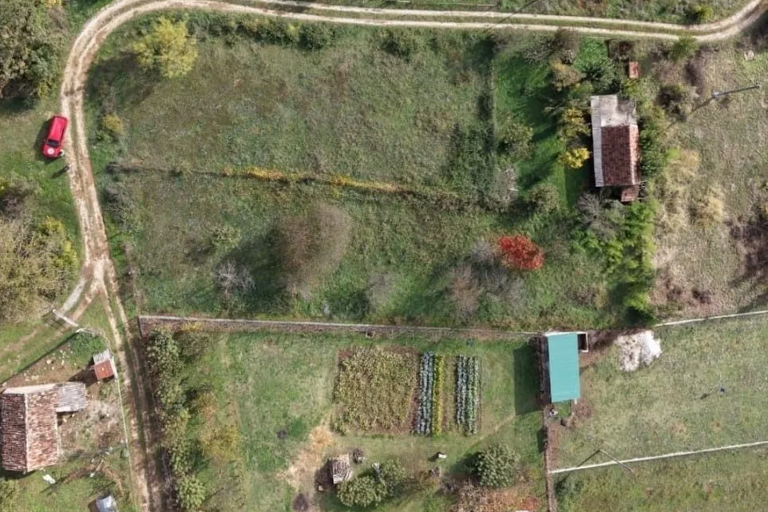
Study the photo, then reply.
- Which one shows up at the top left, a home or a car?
car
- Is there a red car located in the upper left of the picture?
Yes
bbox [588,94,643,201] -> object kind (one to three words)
house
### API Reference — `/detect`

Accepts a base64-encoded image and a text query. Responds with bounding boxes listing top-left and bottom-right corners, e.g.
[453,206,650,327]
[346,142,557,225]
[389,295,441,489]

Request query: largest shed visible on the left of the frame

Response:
[1,376,92,474]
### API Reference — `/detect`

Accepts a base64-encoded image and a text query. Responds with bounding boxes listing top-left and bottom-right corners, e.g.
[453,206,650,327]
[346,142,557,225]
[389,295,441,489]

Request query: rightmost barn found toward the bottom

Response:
[541,330,580,408]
